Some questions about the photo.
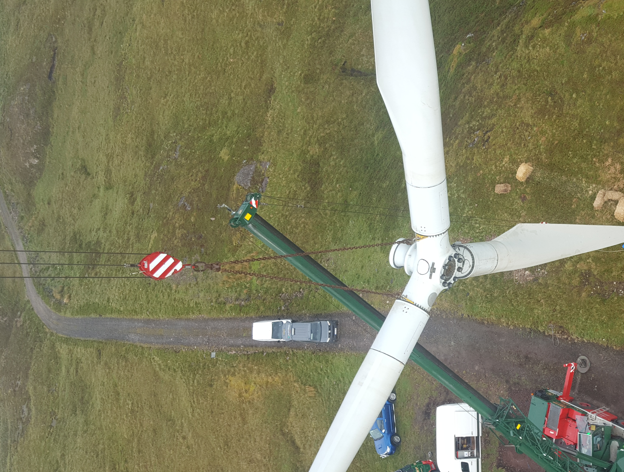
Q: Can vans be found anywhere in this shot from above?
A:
Yes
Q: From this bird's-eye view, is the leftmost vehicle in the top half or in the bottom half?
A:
bottom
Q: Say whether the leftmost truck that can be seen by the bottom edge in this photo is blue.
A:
Yes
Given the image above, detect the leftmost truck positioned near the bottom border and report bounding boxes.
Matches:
[367,388,401,457]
